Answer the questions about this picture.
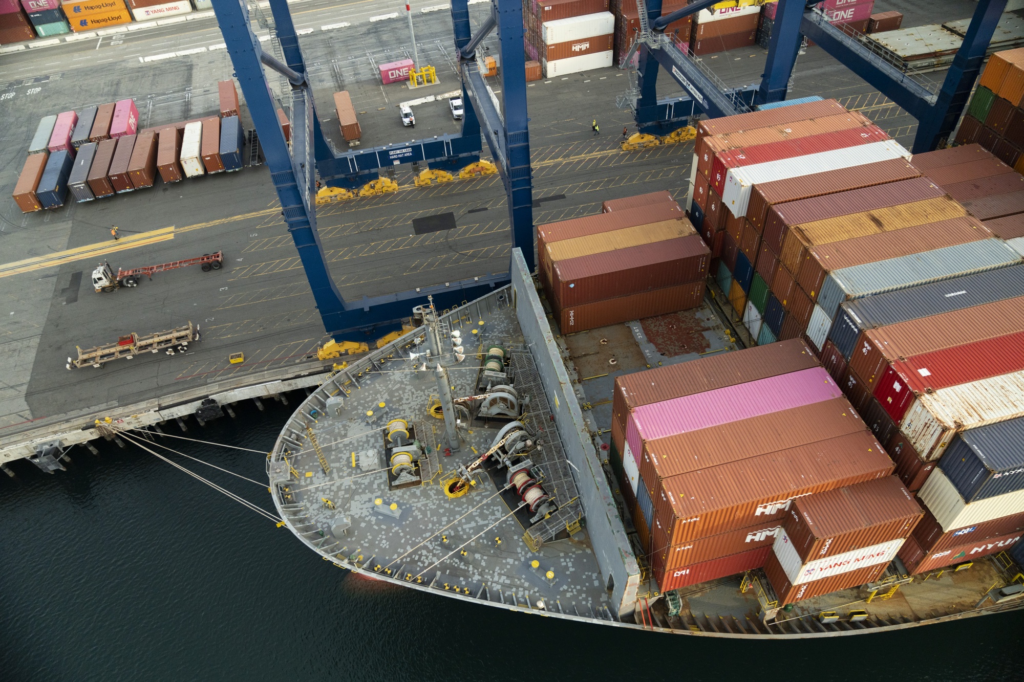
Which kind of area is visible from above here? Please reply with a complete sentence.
What you see here is a port.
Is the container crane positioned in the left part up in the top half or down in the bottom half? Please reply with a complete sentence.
The container crane positioned in the left part sits in the top half of the picture.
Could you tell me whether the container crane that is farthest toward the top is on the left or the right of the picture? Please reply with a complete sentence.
It is on the right.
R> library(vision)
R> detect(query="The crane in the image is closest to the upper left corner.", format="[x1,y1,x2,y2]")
[208,0,538,362]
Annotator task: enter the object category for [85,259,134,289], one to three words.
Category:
work vehicle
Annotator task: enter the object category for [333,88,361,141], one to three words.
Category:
shipping container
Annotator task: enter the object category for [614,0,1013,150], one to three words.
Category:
container crane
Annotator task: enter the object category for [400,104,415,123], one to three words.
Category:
car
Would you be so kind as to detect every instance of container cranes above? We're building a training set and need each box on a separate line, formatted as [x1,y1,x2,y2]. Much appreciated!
[208,0,538,362]
[614,0,1013,150]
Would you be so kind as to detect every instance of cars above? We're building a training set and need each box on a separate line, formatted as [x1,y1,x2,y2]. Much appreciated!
[450,95,462,115]
[400,104,415,123]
